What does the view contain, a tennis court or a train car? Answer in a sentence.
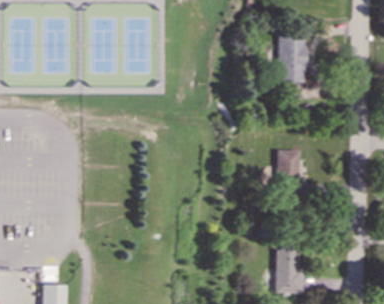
There is a tennis court in the scene.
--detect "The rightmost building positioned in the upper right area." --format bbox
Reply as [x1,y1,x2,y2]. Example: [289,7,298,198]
[278,36,309,84]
